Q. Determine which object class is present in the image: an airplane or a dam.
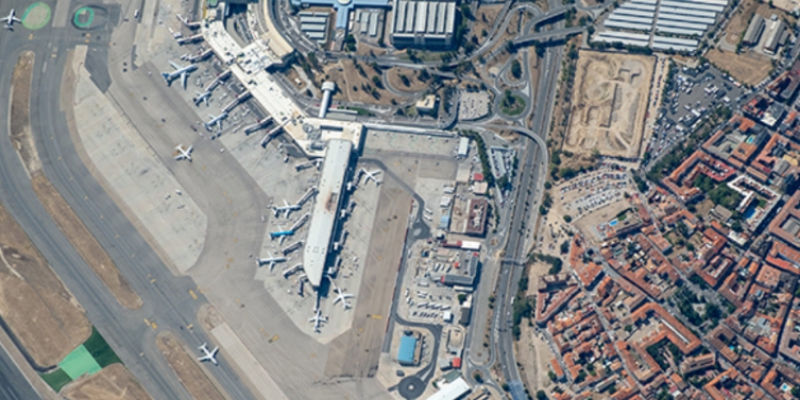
airplane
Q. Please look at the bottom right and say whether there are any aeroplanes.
No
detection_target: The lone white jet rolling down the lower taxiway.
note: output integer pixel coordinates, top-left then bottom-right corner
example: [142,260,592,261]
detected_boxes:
[198,343,219,364]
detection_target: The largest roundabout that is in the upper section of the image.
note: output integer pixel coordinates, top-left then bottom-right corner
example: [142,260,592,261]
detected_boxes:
[495,90,530,120]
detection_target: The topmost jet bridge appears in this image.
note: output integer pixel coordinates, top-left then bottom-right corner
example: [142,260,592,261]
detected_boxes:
[176,13,203,27]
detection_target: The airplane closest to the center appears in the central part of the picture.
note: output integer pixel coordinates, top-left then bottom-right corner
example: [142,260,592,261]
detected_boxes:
[362,167,383,186]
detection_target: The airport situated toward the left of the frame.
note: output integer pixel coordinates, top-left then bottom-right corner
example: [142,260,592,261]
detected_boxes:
[0,0,470,400]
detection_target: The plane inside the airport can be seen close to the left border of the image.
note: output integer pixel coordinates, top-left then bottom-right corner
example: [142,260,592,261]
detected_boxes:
[0,9,22,30]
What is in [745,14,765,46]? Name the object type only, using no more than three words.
shed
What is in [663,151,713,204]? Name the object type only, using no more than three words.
building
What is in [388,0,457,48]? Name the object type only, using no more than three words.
hangar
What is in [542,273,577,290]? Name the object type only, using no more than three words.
building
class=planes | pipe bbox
[162,62,198,84]
[0,9,22,30]
[270,224,295,244]
[334,288,356,310]
[198,343,219,364]
[205,113,227,129]
[272,198,301,217]
[307,309,328,331]
[194,91,212,105]
[176,145,191,161]
[362,167,383,186]
[256,250,289,271]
